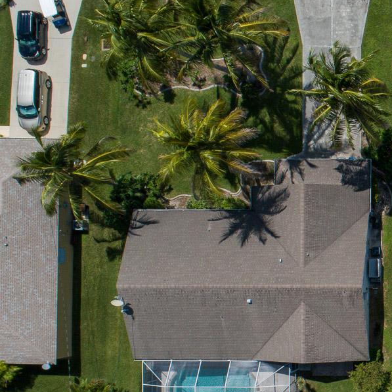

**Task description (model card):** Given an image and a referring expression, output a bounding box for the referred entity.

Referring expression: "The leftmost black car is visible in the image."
[16,8,50,62]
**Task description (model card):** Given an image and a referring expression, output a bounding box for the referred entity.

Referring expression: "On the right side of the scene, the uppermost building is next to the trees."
[117,159,372,364]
